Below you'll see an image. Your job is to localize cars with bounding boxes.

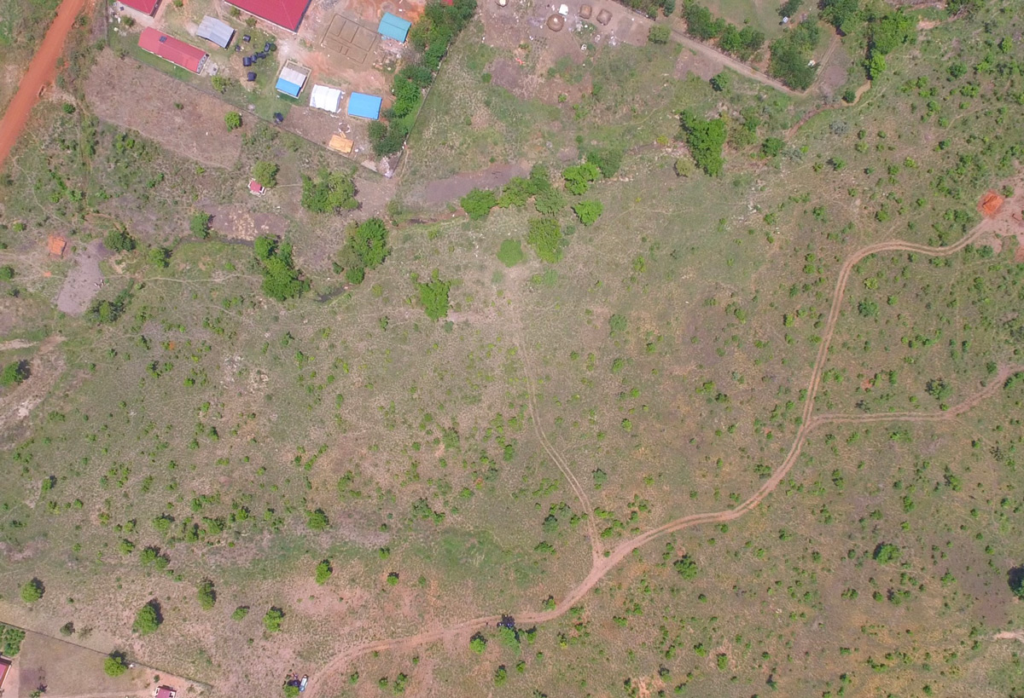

[299,674,309,692]
[287,679,302,688]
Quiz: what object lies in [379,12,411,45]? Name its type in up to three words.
shed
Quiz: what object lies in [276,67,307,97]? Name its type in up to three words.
house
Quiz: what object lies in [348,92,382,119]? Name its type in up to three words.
shed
